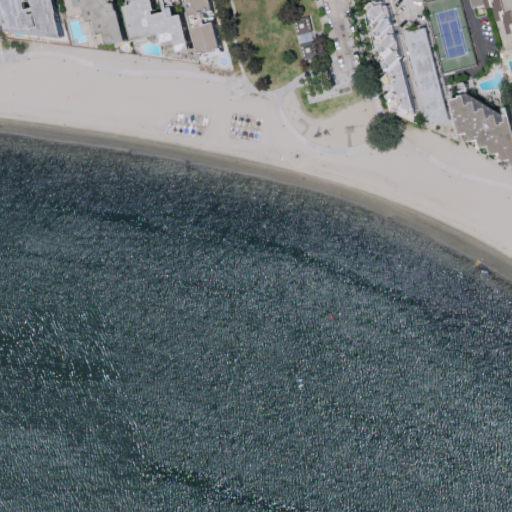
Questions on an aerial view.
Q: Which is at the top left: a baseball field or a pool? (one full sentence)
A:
Visible at the top left is a pool.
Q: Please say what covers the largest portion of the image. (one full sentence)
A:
What you mostly see from above here is water.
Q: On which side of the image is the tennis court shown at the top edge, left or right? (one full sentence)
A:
It is on the right.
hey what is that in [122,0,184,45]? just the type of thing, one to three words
house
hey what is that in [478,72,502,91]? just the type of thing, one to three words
swimming pool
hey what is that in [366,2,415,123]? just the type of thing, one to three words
building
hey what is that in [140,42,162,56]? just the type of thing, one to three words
swimming pool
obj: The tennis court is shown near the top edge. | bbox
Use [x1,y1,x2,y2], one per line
[428,0,477,72]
